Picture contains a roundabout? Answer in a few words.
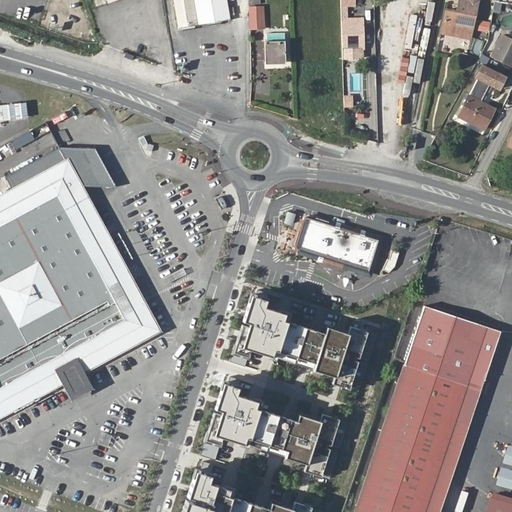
Yes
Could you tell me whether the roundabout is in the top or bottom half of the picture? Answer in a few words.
top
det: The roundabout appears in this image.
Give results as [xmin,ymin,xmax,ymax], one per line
[220,120,290,190]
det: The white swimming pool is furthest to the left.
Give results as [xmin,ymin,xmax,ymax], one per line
[264,28,288,41]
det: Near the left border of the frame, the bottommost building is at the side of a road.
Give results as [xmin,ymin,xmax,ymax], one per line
[0,148,163,417]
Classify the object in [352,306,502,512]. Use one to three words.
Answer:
warehouse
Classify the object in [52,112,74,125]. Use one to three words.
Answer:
vehicle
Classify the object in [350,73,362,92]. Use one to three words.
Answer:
swimming pool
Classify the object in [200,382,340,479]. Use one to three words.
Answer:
building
